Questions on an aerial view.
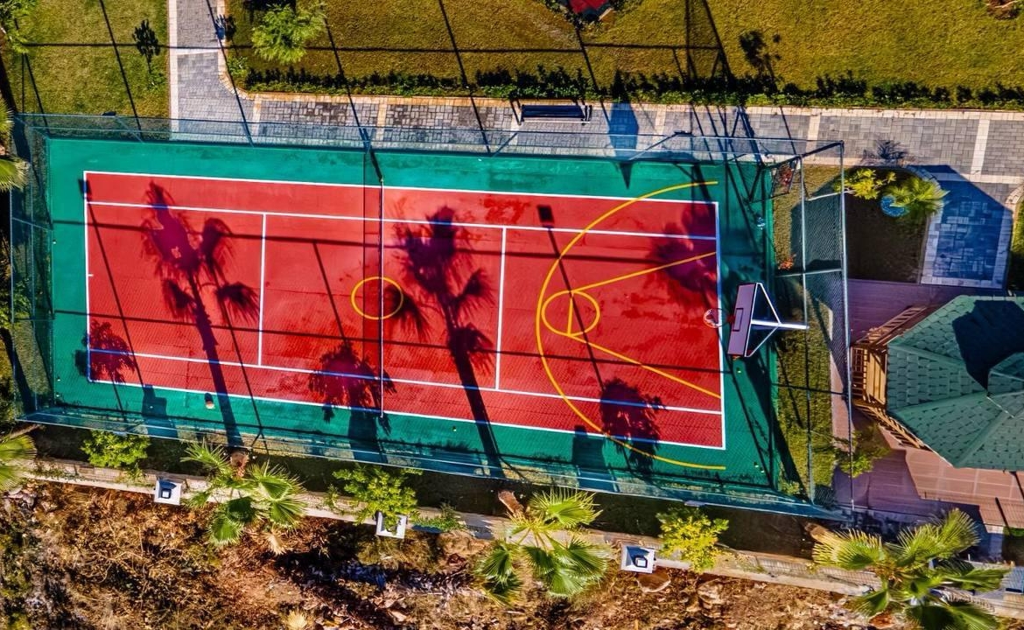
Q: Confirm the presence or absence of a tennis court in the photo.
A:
Yes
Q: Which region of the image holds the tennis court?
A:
center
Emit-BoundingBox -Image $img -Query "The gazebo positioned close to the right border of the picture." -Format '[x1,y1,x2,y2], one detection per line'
[842,292,1024,475]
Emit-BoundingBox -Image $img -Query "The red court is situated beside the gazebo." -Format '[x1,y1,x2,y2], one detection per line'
[49,141,779,490]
